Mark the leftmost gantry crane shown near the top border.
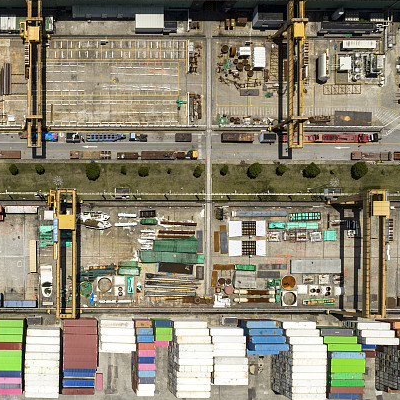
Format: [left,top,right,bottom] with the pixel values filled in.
[20,4,50,149]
